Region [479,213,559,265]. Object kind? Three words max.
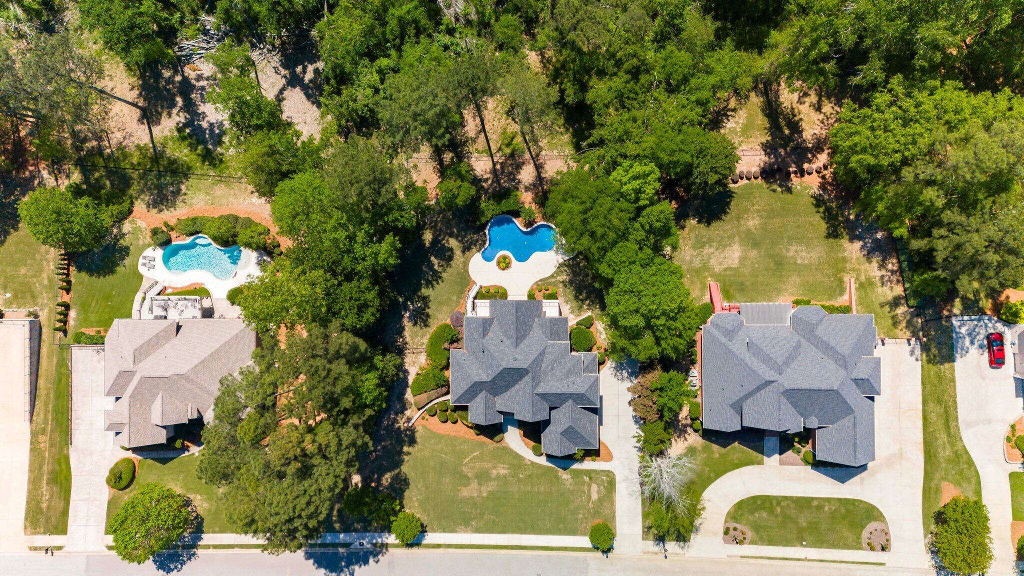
swimming pool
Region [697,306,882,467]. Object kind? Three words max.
house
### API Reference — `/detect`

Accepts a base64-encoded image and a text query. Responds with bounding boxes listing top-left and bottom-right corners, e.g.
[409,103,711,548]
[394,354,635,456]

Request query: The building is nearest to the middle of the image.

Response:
[450,300,599,457]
